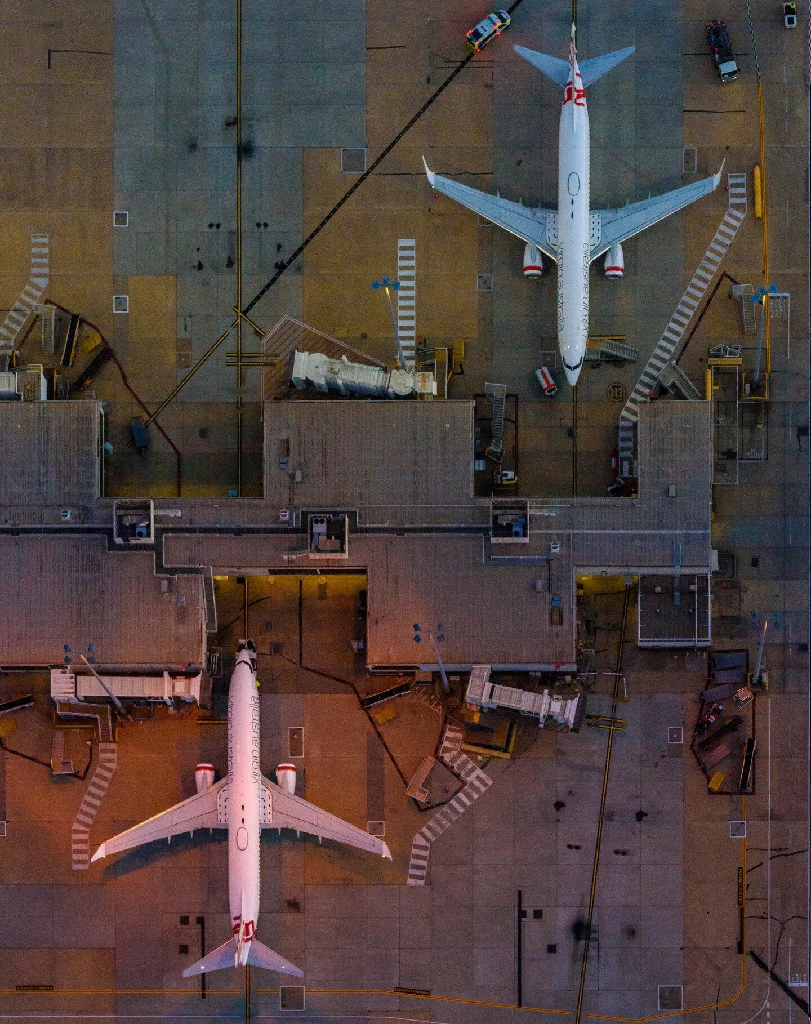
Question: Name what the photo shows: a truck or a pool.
truck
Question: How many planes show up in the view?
two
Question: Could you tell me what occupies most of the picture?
paved ground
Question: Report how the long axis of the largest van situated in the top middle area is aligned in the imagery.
on a diagonal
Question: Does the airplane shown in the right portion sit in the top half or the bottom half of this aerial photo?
top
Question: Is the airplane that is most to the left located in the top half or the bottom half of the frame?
bottom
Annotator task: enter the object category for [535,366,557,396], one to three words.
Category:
vehicle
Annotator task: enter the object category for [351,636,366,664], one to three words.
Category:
vehicle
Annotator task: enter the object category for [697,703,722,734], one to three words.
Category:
work vehicle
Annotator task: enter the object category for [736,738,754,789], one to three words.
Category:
work vehicle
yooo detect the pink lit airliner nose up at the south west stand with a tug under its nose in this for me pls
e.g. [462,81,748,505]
[88,648,390,976]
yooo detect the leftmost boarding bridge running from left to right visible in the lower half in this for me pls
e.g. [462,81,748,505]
[51,666,214,711]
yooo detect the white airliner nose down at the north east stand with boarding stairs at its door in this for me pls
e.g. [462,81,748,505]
[422,24,724,386]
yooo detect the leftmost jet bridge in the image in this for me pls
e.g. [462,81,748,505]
[0,372,50,402]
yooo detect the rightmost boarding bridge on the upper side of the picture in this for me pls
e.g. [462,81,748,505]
[287,351,437,402]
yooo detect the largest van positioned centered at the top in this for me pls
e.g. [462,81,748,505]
[466,11,512,56]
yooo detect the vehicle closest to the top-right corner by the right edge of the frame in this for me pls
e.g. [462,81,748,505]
[784,2,797,29]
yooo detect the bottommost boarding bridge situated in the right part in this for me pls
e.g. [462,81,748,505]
[466,665,588,731]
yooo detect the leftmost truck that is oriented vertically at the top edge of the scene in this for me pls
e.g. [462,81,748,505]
[705,19,737,82]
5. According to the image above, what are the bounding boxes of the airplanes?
[422,24,724,386]
[88,648,390,976]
